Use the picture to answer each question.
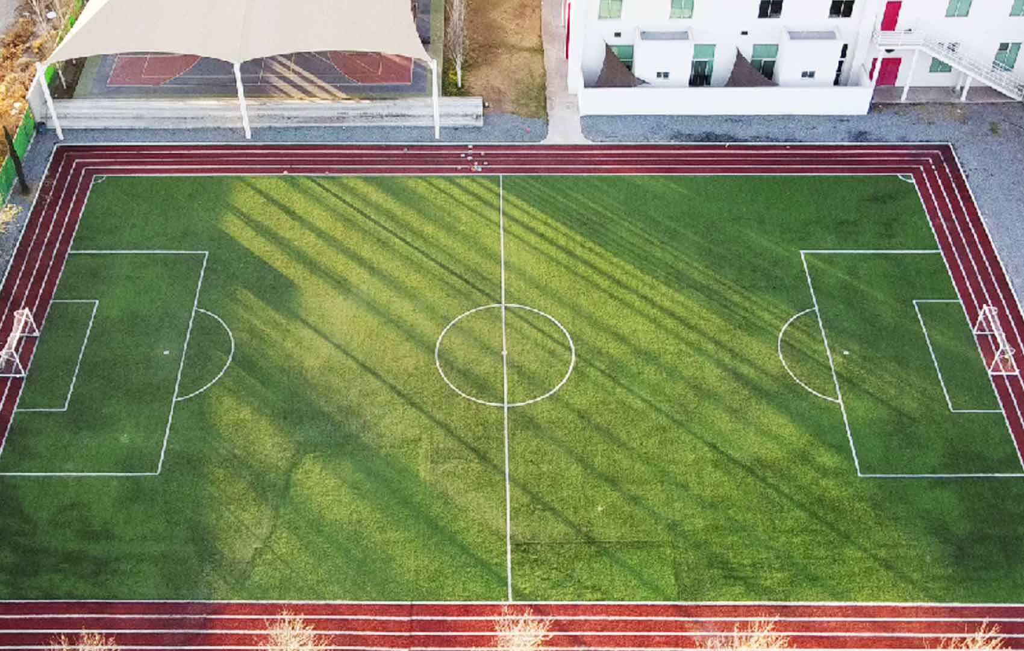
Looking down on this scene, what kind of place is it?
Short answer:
sports ground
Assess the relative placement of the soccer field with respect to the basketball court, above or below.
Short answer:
below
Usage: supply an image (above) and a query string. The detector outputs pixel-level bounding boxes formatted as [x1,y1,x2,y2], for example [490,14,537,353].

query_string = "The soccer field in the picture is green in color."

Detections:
[0,174,1024,604]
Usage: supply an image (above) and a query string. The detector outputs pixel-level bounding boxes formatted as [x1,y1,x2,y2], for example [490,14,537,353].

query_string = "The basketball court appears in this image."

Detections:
[71,0,447,99]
